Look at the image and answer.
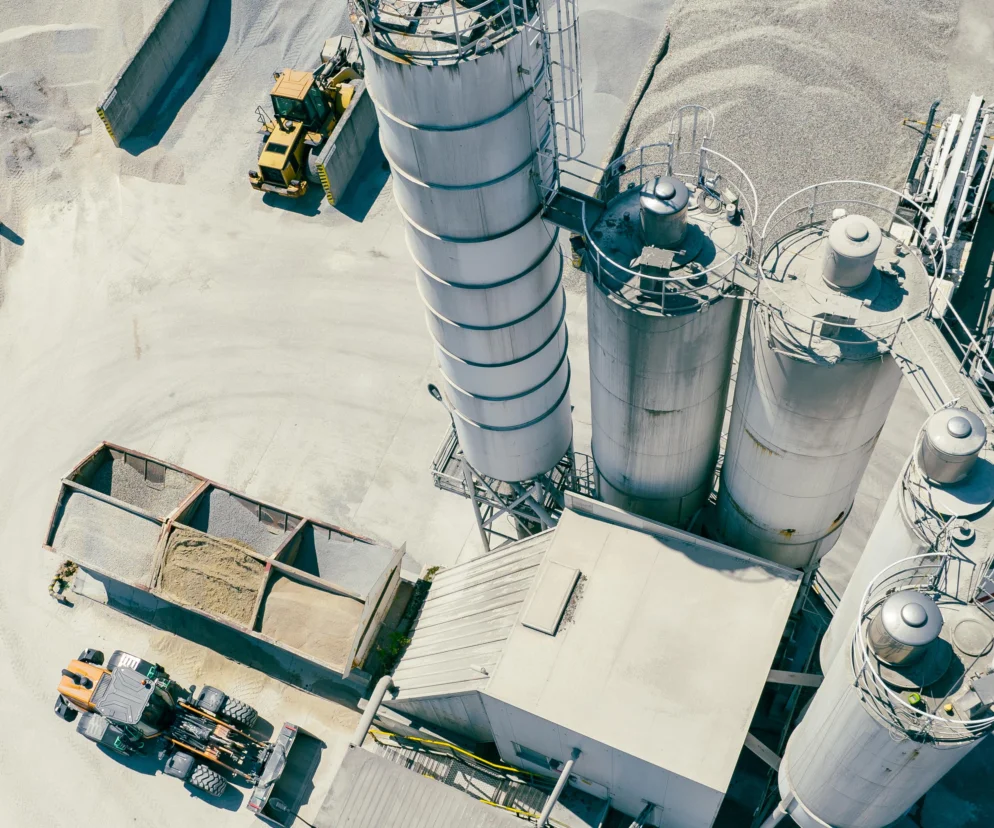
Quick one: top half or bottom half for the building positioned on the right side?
bottom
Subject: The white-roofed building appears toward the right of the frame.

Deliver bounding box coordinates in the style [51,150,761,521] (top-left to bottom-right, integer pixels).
[385,489,808,828]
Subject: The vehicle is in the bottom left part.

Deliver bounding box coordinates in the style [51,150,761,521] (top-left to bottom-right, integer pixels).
[60,654,324,825]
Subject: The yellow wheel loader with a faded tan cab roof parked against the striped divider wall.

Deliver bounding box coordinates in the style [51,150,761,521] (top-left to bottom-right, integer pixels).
[249,32,362,194]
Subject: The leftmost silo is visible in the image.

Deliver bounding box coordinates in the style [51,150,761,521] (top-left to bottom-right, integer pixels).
[348,0,596,552]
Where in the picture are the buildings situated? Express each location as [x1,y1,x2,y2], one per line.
[385,489,808,828]
[306,745,528,828]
